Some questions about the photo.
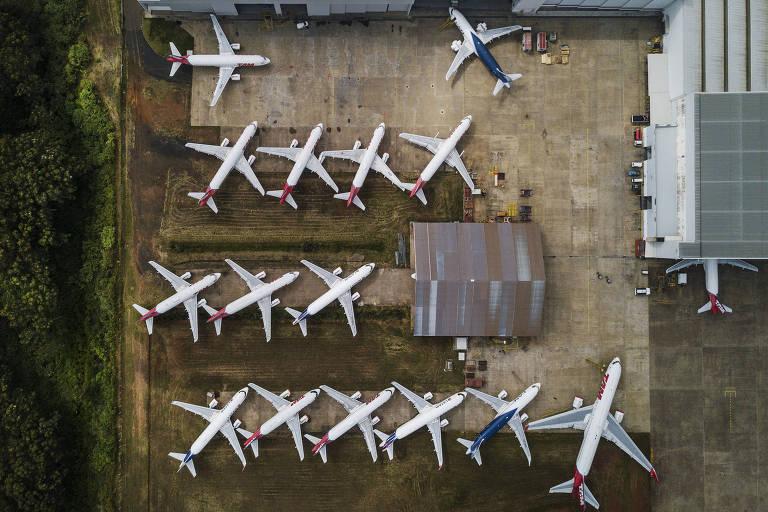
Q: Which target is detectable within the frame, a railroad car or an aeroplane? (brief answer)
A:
aeroplane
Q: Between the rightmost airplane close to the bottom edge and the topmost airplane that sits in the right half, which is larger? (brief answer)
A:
the rightmost airplane close to the bottom edge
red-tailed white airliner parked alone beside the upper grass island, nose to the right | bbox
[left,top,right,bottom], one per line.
[163,13,271,106]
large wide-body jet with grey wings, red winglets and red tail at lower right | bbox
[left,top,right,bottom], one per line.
[529,358,658,508]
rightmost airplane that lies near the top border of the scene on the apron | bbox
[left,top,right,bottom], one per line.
[446,7,523,94]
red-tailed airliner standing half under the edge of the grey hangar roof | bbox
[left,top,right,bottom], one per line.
[665,259,759,315]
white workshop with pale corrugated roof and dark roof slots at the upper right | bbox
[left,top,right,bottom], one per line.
[660,0,768,99]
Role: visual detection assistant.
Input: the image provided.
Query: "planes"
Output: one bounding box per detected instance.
[237,383,321,461]
[170,387,250,475]
[255,124,339,210]
[446,7,523,94]
[320,123,405,210]
[285,260,376,337]
[374,382,468,468]
[529,358,658,508]
[665,259,759,315]
[133,261,220,342]
[305,385,395,463]
[184,121,265,213]
[458,383,543,463]
[202,259,299,342]
[399,115,476,205]
[163,13,271,106]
